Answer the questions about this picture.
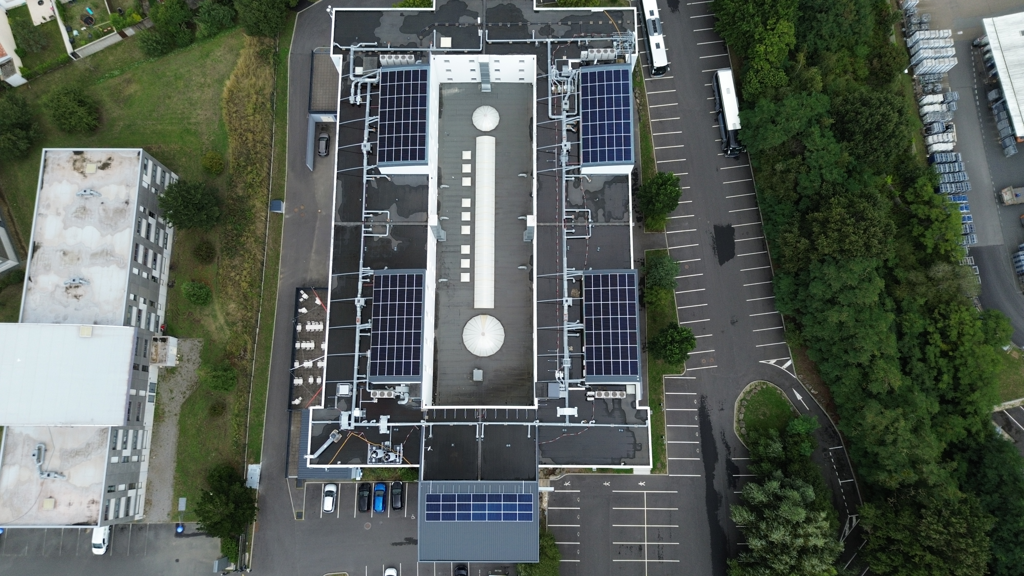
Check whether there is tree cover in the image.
Yes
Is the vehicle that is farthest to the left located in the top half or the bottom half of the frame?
bottom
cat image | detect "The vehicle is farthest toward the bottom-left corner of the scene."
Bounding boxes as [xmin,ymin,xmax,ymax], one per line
[94,524,114,557]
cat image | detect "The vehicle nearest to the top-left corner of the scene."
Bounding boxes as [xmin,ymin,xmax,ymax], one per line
[317,134,332,158]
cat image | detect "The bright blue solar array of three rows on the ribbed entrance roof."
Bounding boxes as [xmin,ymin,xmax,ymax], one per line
[426,480,533,521]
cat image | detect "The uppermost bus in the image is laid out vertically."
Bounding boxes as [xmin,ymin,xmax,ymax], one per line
[637,0,669,83]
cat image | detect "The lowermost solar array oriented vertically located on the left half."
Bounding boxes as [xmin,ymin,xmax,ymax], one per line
[370,274,423,376]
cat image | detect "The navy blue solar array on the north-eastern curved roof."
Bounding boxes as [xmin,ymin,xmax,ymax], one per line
[581,69,631,164]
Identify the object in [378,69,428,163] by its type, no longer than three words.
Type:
solar array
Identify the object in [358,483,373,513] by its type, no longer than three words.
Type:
car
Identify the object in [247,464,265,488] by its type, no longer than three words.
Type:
building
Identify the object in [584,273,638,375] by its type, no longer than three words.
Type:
solar array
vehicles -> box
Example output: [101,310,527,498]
[454,565,469,576]
[390,481,405,510]
[996,186,1024,206]
[712,70,745,162]
[317,134,332,158]
[373,484,388,513]
[385,567,398,576]
[323,484,338,513]
[358,483,373,513]
[637,0,669,83]
[1011,137,1024,146]
[94,524,114,557]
